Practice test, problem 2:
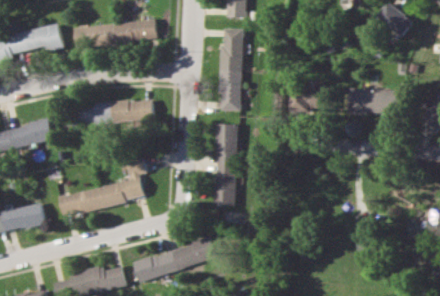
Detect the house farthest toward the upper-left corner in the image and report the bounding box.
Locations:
[0,26,64,62]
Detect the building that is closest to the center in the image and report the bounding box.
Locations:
[218,124,239,206]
